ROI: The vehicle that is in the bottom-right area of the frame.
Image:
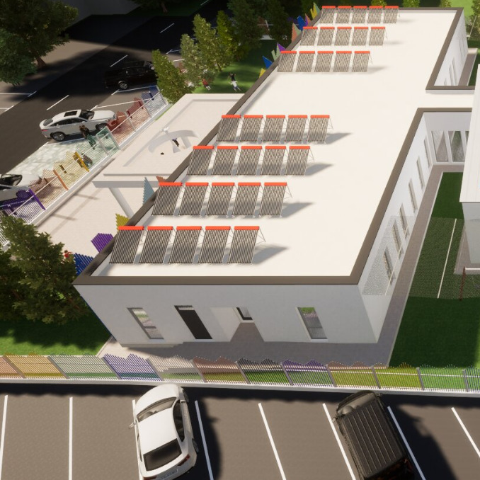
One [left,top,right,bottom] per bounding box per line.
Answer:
[336,396,420,480]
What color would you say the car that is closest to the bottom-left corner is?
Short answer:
white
